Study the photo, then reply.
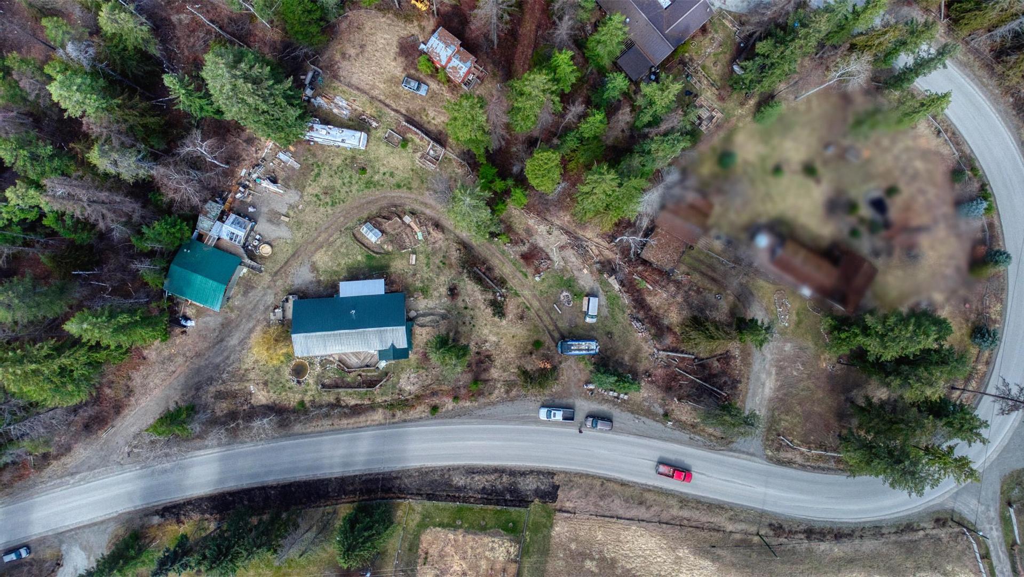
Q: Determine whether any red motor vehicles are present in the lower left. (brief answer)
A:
No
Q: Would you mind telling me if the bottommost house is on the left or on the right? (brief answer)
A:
left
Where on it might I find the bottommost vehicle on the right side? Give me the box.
[654,462,691,482]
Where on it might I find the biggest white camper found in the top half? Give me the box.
[304,124,369,152]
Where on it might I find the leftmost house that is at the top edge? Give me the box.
[419,27,476,85]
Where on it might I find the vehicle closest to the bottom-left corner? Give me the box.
[0,543,33,564]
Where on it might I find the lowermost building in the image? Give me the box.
[291,279,414,361]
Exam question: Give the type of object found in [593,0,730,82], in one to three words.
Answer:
house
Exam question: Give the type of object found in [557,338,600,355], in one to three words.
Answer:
vehicle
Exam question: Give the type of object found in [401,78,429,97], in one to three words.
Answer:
car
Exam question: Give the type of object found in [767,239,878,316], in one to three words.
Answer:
house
